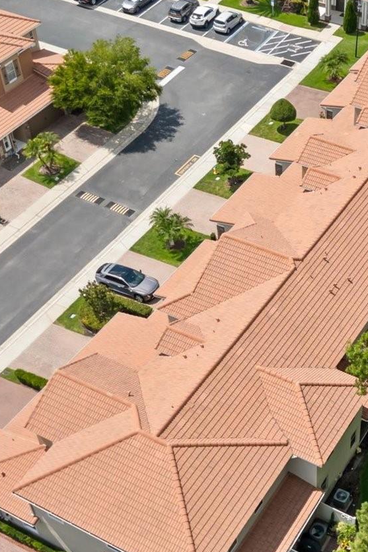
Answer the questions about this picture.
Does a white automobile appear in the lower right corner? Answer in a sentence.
No, I see no white automobile in the lower right corner.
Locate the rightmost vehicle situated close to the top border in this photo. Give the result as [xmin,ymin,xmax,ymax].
[210,12,240,33]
